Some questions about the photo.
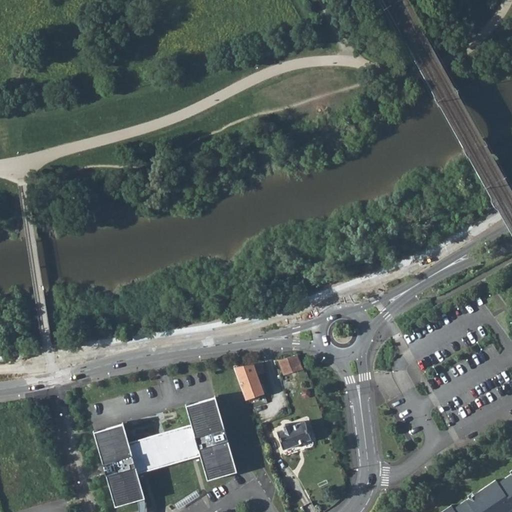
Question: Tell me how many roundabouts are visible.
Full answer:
I count just 1 roundabout.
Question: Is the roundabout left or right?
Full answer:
It is on the right.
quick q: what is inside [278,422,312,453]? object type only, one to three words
house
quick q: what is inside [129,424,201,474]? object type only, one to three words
building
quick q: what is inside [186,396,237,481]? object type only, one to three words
building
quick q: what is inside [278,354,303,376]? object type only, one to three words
house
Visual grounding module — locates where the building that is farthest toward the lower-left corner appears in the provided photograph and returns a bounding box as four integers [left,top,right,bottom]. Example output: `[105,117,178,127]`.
[94,422,145,508]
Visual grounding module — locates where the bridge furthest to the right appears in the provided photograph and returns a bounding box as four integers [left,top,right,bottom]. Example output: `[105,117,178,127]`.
[389,0,512,236]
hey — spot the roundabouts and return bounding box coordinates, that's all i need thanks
[314,306,371,362]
